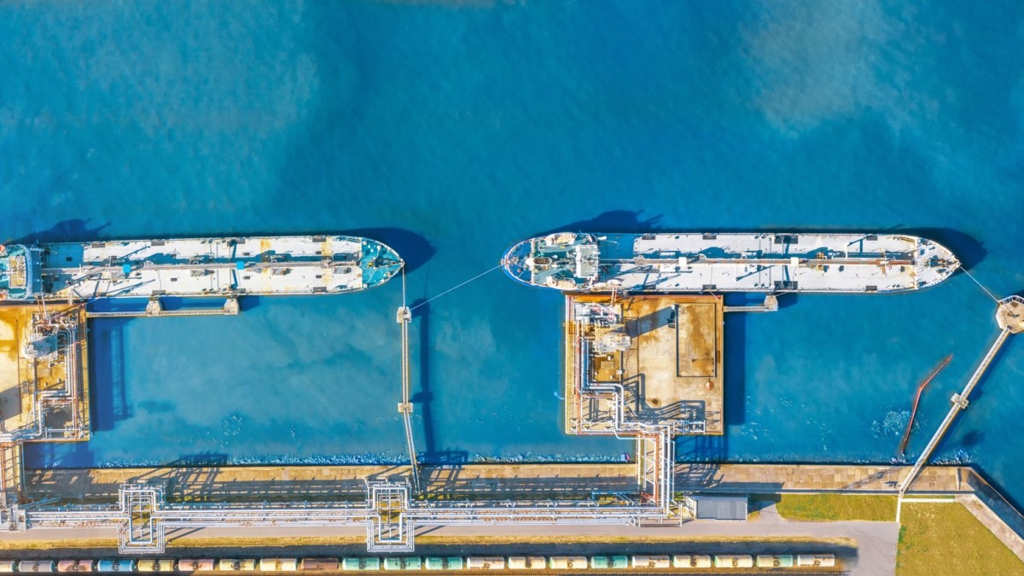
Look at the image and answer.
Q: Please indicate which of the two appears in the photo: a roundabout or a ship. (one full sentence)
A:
The image shows a ship.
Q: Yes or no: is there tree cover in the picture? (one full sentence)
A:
No, the picture contains no tree cover.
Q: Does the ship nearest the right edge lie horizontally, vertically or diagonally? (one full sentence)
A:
In this picture, the ship nearest the right edge lies horizontally.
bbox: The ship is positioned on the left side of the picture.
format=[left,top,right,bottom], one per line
[0,236,412,300]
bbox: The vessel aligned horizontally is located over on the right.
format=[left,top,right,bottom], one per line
[501,232,964,293]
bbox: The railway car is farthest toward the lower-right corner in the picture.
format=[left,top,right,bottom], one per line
[794,553,836,567]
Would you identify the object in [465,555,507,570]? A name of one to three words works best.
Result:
rail car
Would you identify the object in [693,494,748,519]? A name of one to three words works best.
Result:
shed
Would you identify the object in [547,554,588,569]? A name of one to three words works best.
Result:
rail car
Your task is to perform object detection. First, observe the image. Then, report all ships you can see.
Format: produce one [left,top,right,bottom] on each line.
[0,236,412,300]
[501,232,964,293]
